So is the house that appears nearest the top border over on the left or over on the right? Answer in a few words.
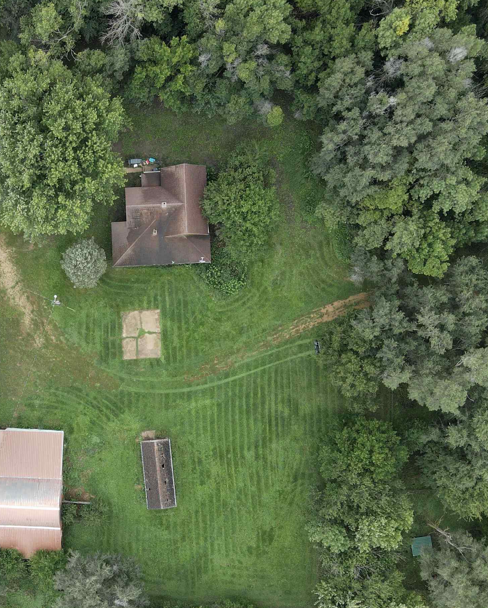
left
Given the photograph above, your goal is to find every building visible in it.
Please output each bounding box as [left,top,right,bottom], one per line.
[0,425,66,561]
[111,164,210,268]
[414,538,436,560]
[140,438,176,510]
